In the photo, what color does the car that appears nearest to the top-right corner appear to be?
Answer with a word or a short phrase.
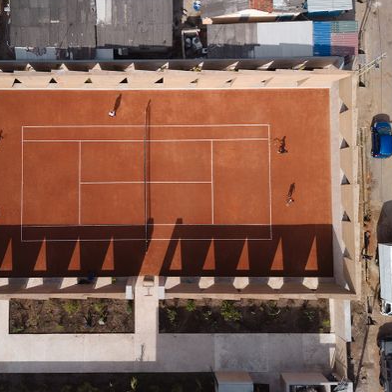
blue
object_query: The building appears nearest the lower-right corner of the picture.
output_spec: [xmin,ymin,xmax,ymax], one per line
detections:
[280,373,354,392]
